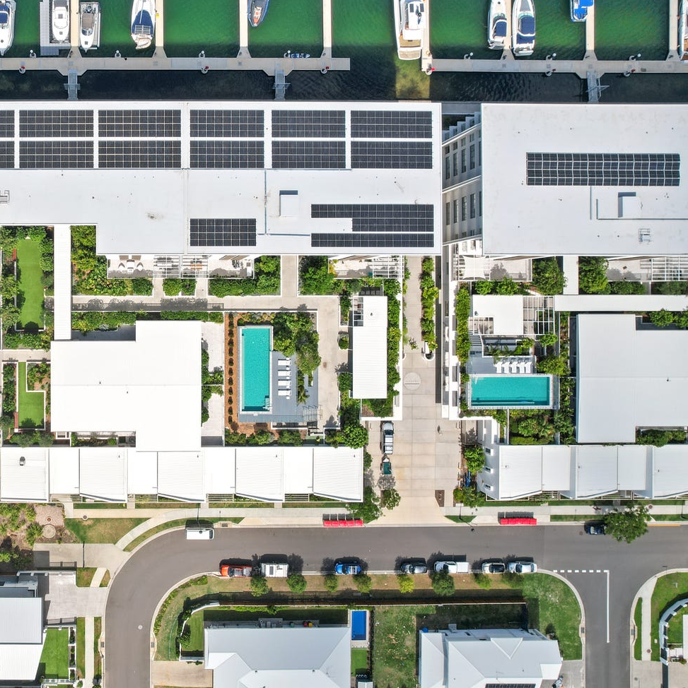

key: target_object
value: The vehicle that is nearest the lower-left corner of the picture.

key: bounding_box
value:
[184,527,215,540]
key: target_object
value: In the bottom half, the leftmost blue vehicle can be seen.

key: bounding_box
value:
[334,562,362,576]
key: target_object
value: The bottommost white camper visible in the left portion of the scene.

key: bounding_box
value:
[255,561,289,580]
